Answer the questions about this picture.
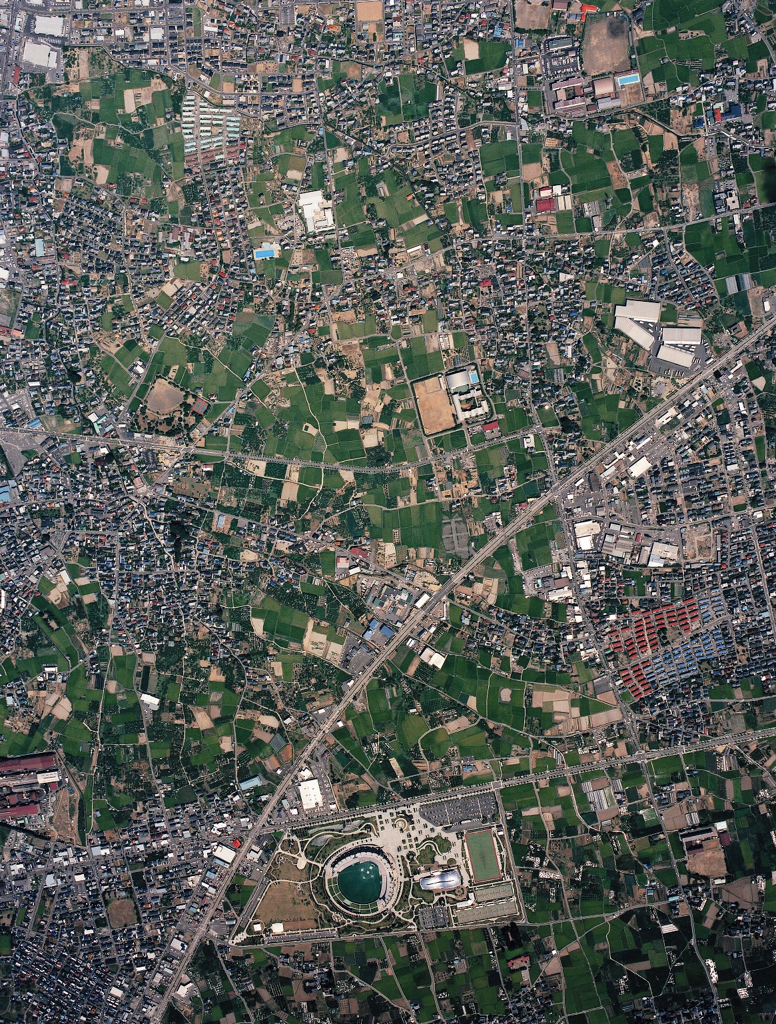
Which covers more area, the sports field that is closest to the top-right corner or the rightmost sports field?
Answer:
the sports field that is closest to the top-right corner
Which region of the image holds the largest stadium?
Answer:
bottom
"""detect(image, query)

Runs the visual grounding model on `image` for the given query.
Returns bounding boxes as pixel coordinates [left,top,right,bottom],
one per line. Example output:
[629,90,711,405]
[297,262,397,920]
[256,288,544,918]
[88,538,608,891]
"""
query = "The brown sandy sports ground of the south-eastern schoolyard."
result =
[686,849,727,877]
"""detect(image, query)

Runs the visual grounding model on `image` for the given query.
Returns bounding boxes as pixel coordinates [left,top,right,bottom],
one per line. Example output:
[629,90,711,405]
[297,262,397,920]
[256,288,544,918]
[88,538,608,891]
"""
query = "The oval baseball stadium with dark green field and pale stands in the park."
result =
[326,852,393,917]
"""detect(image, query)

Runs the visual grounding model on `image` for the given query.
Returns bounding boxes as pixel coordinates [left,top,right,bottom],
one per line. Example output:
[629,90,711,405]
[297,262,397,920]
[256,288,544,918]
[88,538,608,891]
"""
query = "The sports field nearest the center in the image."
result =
[413,377,455,434]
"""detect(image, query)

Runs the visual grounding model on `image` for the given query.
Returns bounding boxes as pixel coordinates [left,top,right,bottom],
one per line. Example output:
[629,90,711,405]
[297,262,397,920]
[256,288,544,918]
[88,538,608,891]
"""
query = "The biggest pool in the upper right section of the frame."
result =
[616,71,640,89]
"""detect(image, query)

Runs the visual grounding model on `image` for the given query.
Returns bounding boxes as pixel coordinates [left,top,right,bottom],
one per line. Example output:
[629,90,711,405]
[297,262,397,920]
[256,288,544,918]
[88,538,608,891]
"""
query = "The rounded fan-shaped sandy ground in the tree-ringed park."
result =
[147,378,185,413]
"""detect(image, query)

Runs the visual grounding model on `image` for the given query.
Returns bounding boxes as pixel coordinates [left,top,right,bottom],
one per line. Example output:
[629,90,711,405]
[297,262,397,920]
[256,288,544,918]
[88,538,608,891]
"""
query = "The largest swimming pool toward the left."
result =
[254,243,281,260]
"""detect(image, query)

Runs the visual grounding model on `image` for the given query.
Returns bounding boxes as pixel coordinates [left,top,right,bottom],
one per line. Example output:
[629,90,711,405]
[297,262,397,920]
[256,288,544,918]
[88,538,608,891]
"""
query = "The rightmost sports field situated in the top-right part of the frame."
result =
[583,13,631,73]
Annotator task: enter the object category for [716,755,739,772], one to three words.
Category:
greenhouse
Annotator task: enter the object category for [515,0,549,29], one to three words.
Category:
sports field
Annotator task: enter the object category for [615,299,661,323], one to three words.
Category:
building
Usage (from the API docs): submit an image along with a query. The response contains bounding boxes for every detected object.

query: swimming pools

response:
[254,243,281,260]
[616,71,640,89]
[469,370,479,384]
